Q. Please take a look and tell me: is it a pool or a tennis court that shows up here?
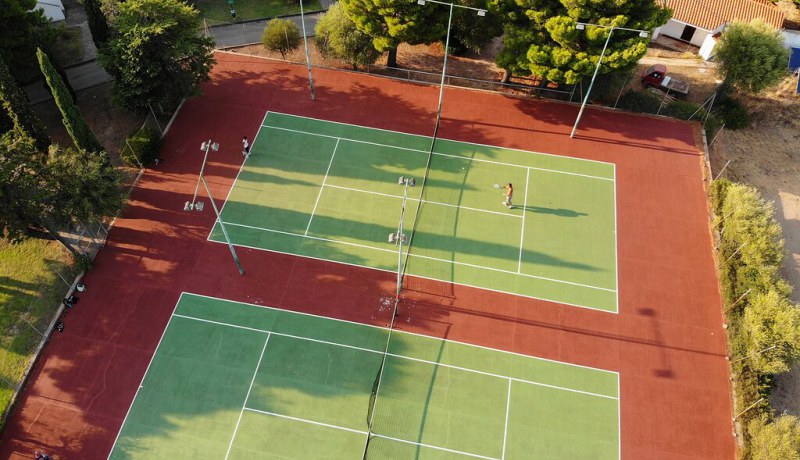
tennis court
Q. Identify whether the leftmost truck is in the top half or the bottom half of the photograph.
top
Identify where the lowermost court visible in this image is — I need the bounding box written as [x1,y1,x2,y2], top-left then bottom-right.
[105,291,622,460]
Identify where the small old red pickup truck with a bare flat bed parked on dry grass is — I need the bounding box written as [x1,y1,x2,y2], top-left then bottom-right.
[641,63,697,100]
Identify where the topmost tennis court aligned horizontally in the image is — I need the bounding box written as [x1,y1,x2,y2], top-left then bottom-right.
[208,112,619,312]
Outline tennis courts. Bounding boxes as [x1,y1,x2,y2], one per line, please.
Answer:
[208,112,619,312]
[105,291,622,460]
